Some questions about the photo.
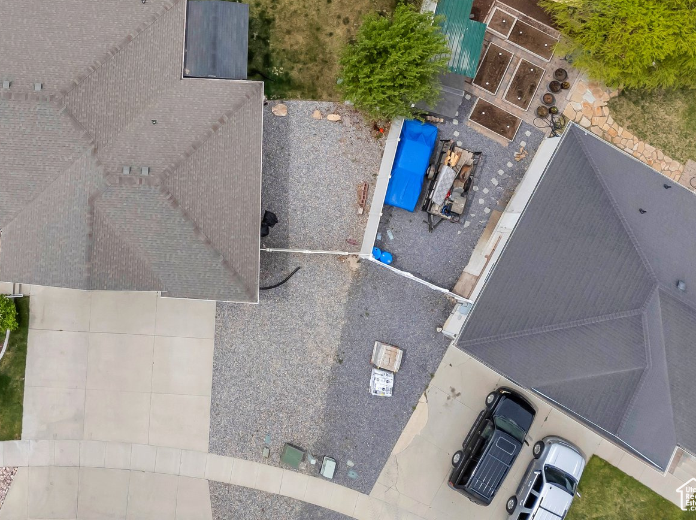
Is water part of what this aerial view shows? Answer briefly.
No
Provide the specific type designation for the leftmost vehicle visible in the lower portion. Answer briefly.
car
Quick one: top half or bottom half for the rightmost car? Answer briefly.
bottom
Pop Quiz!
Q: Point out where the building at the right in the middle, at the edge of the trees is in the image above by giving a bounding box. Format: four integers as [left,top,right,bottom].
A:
[443,117,696,471]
